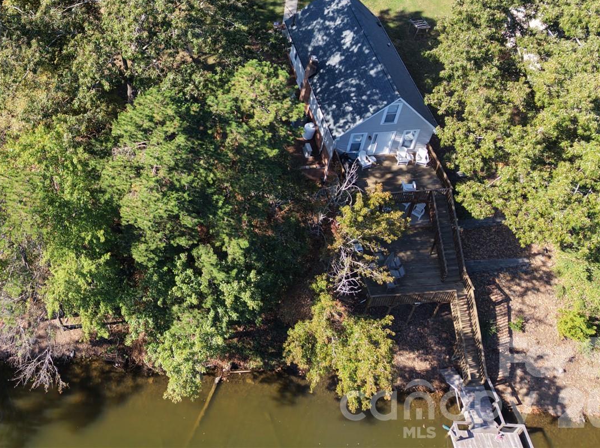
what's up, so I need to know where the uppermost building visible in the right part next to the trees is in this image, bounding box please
[280,0,445,179]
